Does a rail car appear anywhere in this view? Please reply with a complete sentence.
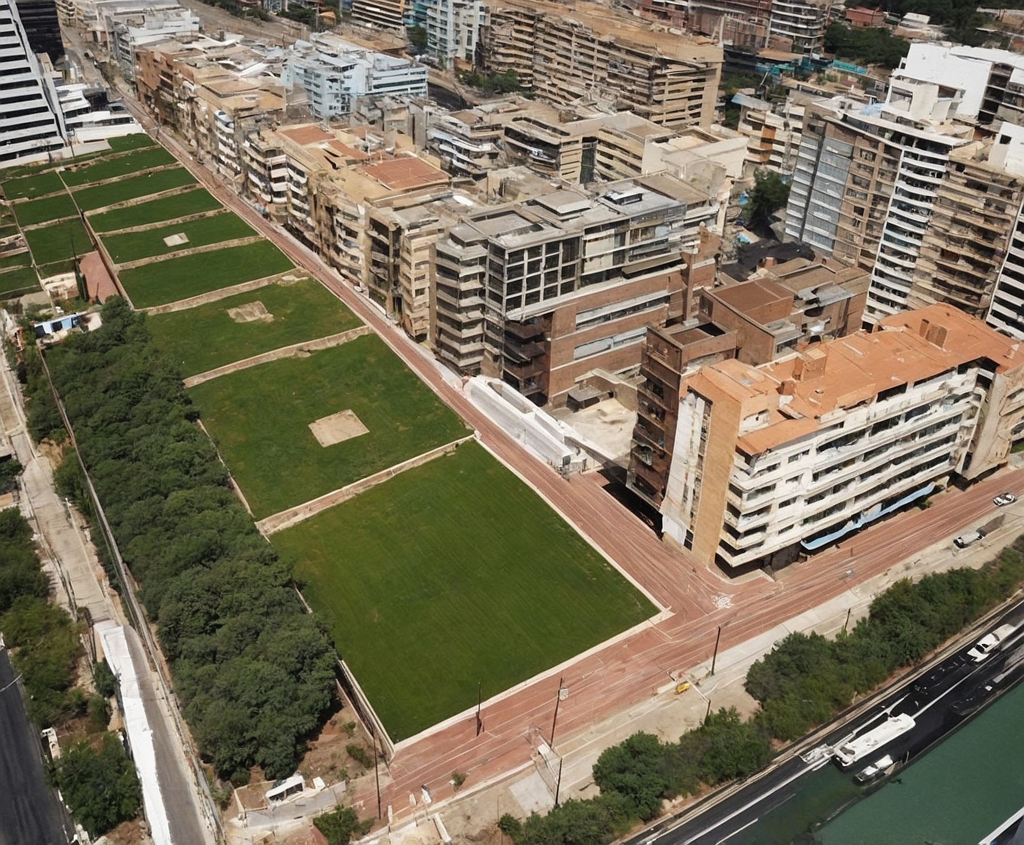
No, no rail car can be seen from above.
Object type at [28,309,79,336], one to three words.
shed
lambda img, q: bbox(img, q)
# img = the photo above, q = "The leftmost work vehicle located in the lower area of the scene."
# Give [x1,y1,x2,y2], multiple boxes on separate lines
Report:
[676,683,691,699]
